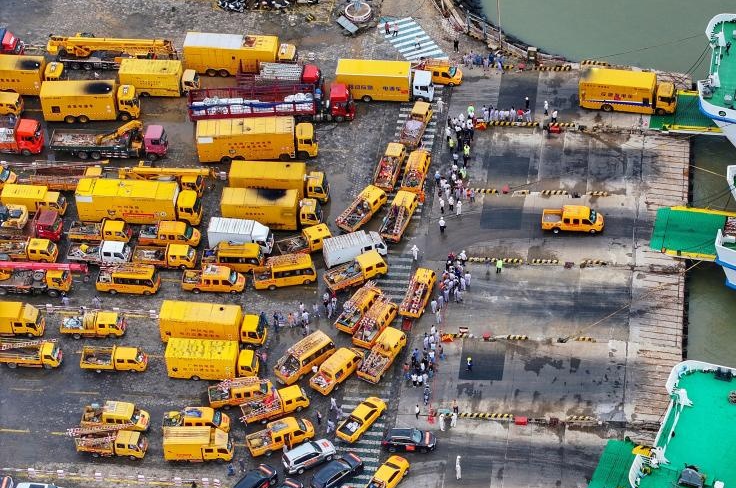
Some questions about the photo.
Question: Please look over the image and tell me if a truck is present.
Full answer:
Yes, there's a truck here.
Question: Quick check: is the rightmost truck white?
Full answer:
No, the rightmost truck is yellow.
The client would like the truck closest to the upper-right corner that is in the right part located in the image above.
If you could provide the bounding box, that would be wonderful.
[579,67,680,114]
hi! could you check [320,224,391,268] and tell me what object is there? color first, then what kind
white truck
